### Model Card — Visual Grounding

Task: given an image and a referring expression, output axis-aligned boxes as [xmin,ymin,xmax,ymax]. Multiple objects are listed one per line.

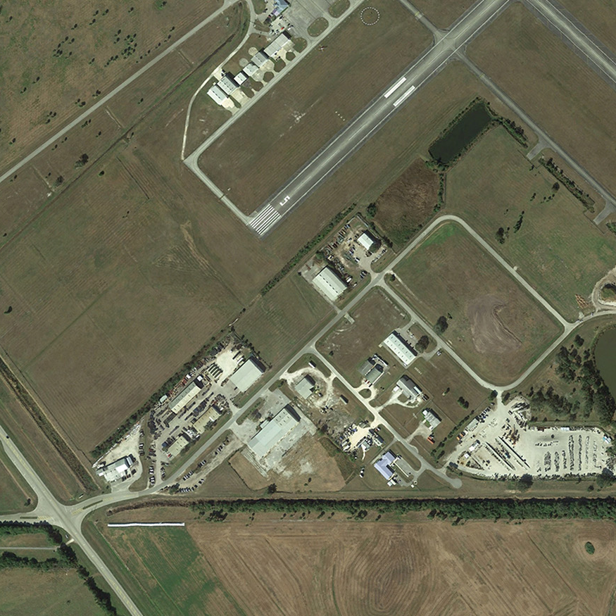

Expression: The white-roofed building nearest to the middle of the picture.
[312,267,346,301]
